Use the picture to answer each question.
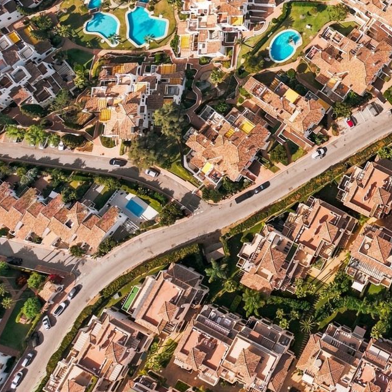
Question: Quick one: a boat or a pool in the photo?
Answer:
pool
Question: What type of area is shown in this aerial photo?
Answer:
residential area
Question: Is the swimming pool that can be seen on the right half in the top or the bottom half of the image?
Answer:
top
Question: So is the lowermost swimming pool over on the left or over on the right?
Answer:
left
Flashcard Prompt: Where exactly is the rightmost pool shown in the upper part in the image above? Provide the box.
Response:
[267,28,303,64]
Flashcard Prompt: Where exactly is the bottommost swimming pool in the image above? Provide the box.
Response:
[118,283,139,314]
